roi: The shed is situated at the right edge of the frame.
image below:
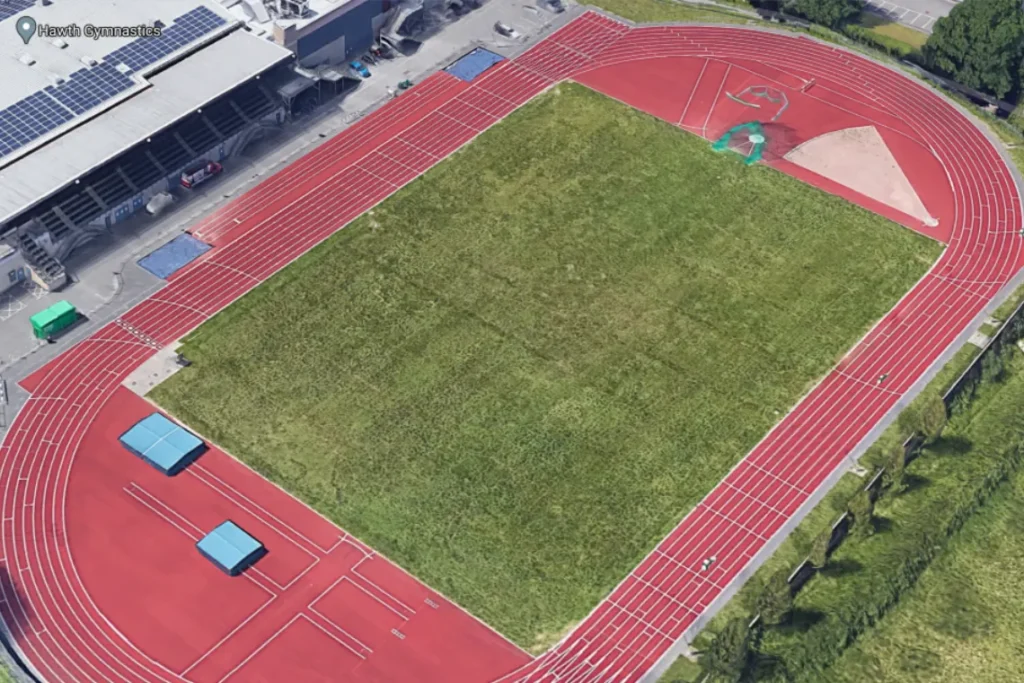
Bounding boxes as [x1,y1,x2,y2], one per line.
[963,92,992,116]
